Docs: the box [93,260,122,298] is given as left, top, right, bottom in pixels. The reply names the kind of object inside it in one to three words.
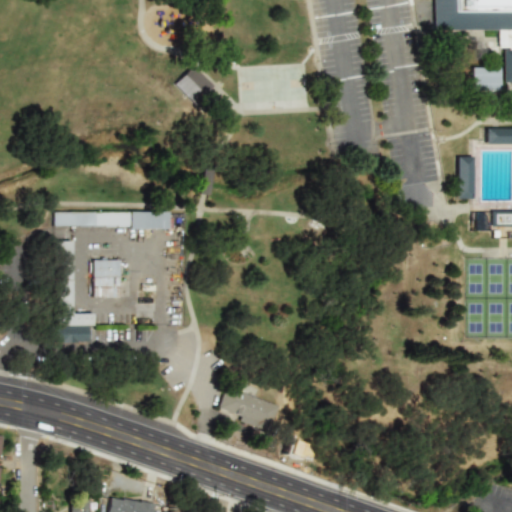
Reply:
building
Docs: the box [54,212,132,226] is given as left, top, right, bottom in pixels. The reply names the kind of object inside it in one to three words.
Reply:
shed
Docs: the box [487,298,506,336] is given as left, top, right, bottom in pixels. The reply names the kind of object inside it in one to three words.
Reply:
sports court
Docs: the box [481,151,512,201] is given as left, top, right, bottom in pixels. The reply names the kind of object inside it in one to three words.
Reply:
swimming pool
